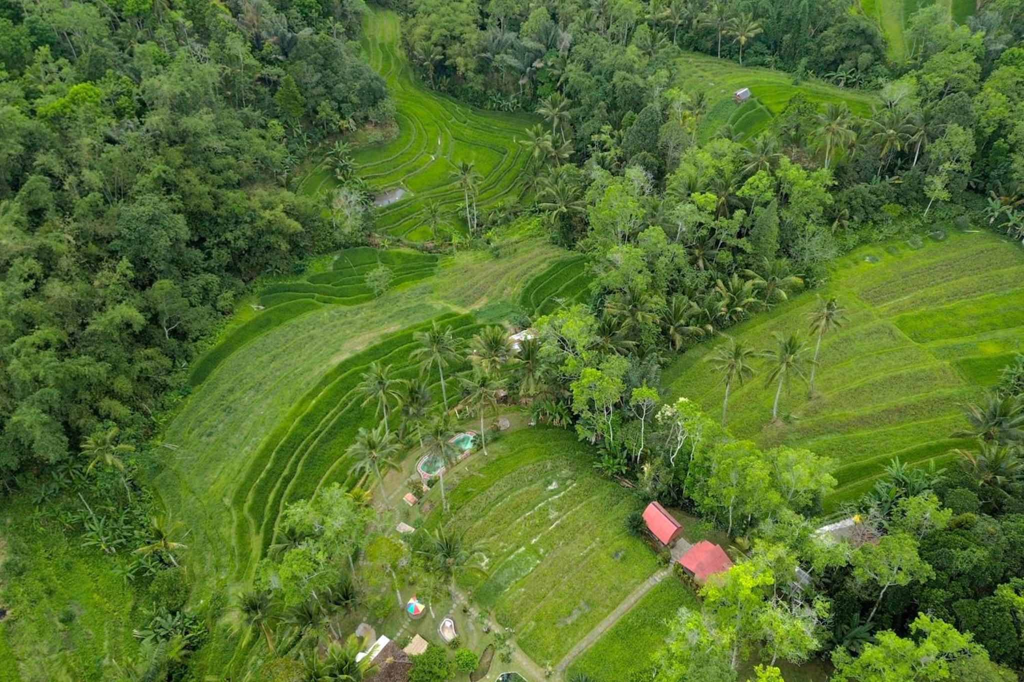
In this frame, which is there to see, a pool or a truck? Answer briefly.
pool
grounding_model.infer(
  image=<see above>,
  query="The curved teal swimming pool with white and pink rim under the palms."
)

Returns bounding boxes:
[418,432,475,476]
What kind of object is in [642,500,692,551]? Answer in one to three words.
shed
